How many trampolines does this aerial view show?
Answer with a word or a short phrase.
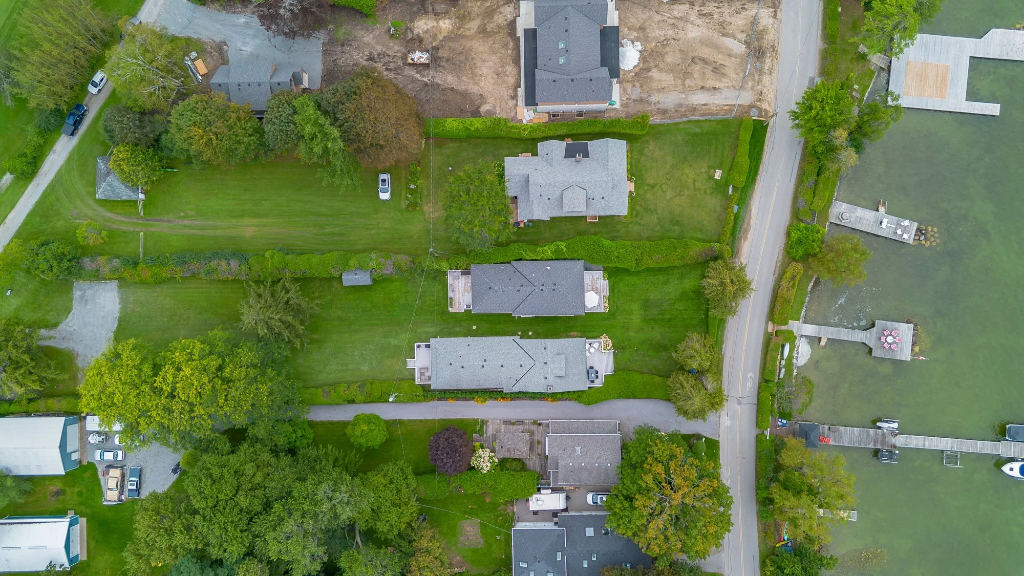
zero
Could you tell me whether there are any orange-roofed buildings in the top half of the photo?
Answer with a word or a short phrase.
No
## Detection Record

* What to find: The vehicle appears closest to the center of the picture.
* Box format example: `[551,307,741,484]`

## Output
[376,171,391,201]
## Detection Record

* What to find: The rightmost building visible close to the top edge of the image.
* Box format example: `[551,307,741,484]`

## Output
[517,0,620,120]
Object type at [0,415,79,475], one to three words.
barn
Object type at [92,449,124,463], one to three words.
car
